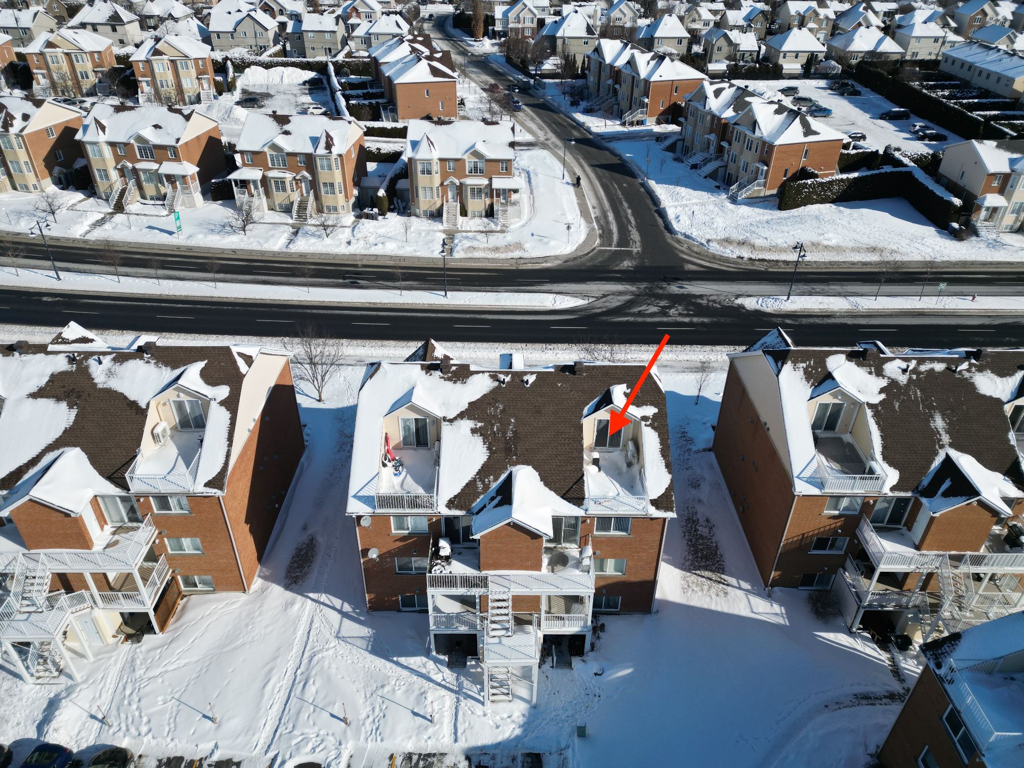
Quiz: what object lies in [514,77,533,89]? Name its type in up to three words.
vehicle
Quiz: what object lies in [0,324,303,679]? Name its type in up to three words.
building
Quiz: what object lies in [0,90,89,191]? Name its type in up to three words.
house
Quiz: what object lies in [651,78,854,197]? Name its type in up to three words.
house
